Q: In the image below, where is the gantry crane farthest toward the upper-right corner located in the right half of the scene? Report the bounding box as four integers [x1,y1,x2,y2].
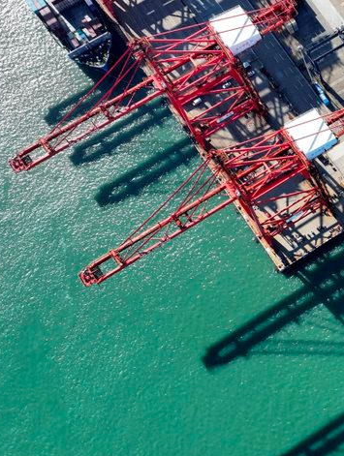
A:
[296,14,344,83]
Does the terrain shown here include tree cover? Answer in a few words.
No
